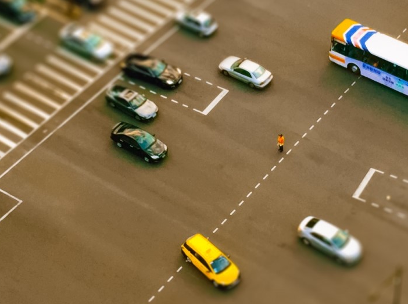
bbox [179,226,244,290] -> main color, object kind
yellow car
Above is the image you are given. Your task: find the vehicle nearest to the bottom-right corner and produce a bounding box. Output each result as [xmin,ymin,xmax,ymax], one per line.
[292,216,367,268]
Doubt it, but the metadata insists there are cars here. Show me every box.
[214,56,277,95]
[105,123,171,168]
[179,226,244,290]
[0,48,16,78]
[120,54,184,94]
[74,0,107,10]
[99,84,164,127]
[166,8,225,44]
[292,216,367,268]
[0,0,39,25]
[55,26,117,63]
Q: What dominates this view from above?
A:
paved ground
